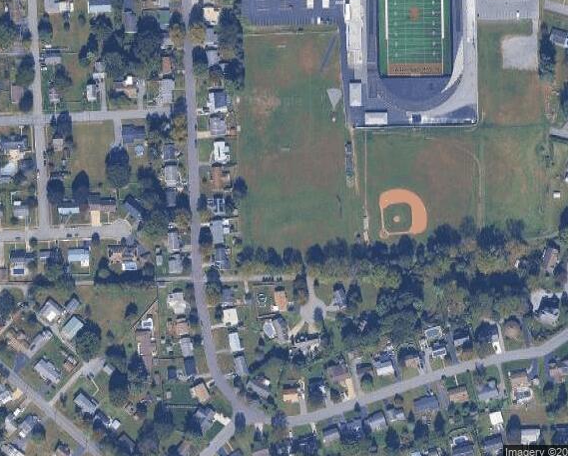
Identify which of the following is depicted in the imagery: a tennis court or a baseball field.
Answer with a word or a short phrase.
baseball field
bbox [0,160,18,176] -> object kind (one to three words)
swimming pool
